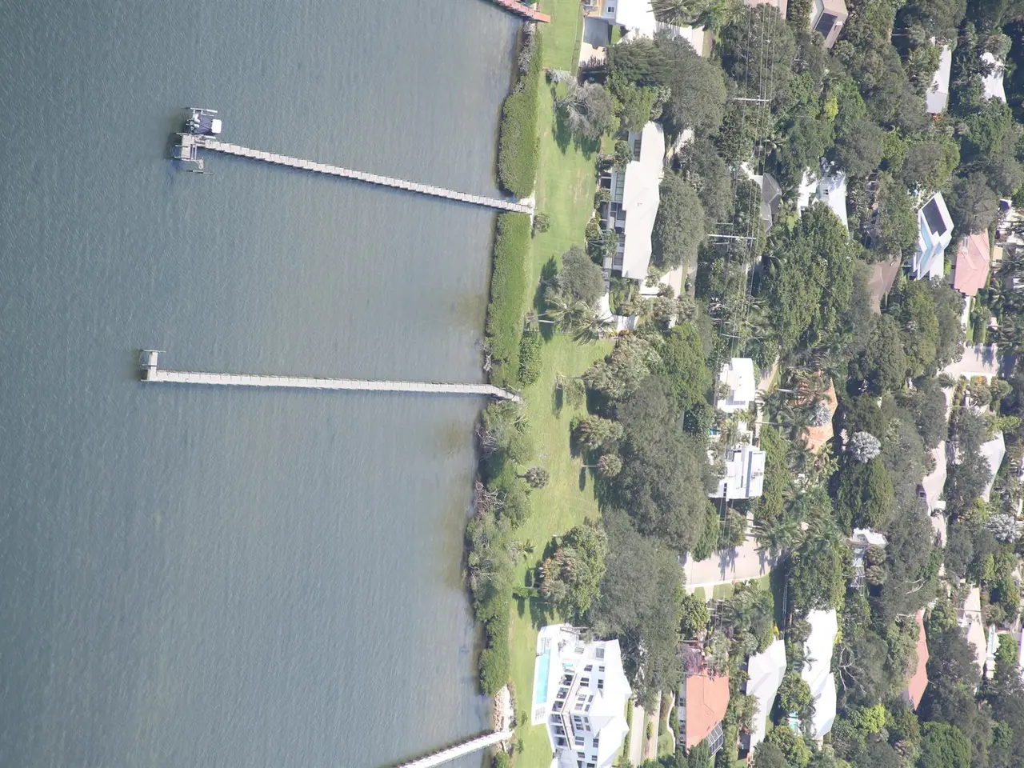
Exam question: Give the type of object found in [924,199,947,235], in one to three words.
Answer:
solar panel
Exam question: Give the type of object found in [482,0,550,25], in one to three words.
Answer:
pier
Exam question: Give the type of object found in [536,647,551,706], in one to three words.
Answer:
swimming pool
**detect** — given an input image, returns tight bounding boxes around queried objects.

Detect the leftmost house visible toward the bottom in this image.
[540,639,631,768]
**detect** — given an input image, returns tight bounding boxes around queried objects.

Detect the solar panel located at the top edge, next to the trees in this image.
[817,11,837,36]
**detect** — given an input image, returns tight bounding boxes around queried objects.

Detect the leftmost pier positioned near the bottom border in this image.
[385,727,510,768]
